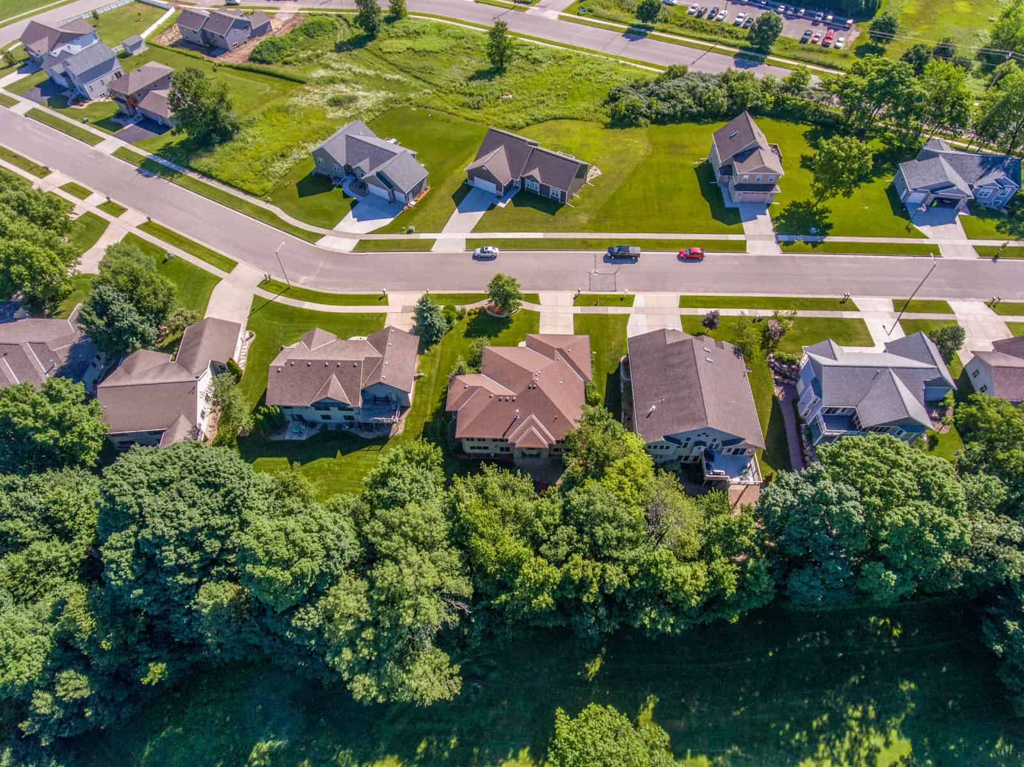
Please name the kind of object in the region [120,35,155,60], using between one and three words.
shed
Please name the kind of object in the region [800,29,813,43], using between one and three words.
vehicle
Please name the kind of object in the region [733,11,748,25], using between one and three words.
vehicle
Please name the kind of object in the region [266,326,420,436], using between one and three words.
house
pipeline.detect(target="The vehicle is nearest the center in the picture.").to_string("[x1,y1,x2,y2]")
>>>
[473,247,500,260]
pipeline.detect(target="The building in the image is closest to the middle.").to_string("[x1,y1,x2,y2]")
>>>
[446,333,592,466]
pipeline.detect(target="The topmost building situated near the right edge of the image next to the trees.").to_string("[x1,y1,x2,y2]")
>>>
[894,138,1024,210]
